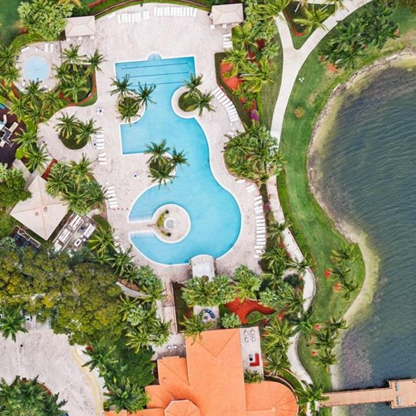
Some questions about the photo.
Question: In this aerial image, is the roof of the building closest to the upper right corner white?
Yes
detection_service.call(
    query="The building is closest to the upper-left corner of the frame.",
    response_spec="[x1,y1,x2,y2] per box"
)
[65,16,94,38]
